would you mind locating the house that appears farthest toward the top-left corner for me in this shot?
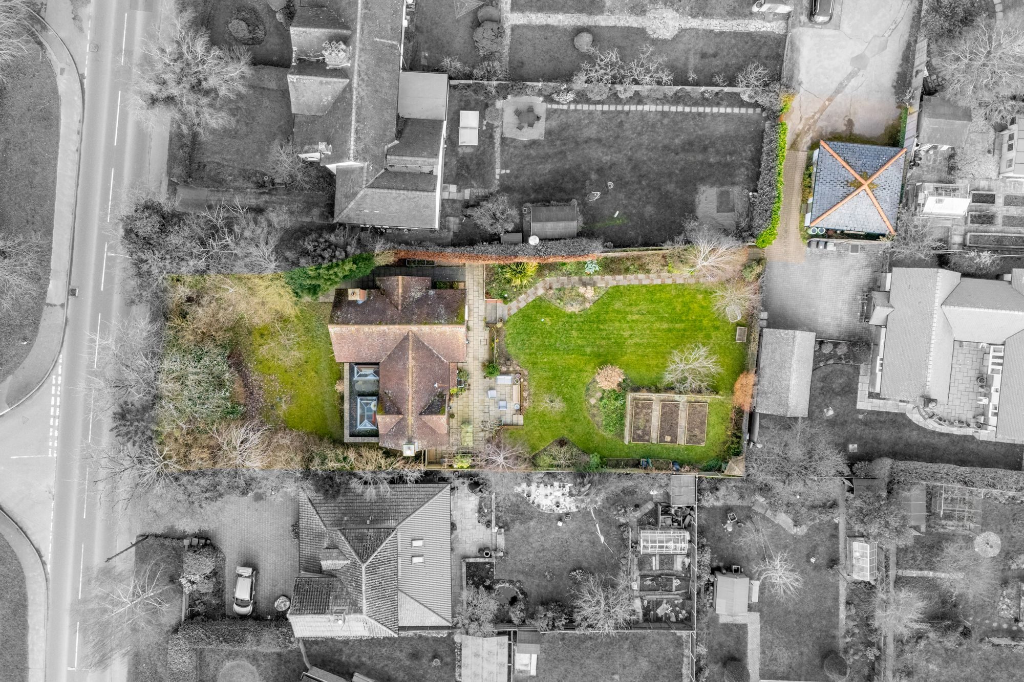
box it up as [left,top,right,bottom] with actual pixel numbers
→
[287,0,450,233]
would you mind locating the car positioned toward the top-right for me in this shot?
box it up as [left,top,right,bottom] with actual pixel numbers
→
[807,0,838,26]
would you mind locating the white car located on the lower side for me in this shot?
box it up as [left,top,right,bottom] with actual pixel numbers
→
[229,566,259,617]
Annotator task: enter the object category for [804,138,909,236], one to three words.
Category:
building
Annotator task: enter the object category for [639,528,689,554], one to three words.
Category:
greenhouse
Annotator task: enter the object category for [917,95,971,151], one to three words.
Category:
shed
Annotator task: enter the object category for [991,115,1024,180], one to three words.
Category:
house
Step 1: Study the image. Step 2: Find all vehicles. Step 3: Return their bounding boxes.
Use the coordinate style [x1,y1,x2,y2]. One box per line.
[807,0,838,26]
[229,566,259,617]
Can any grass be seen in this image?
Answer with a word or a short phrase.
Yes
